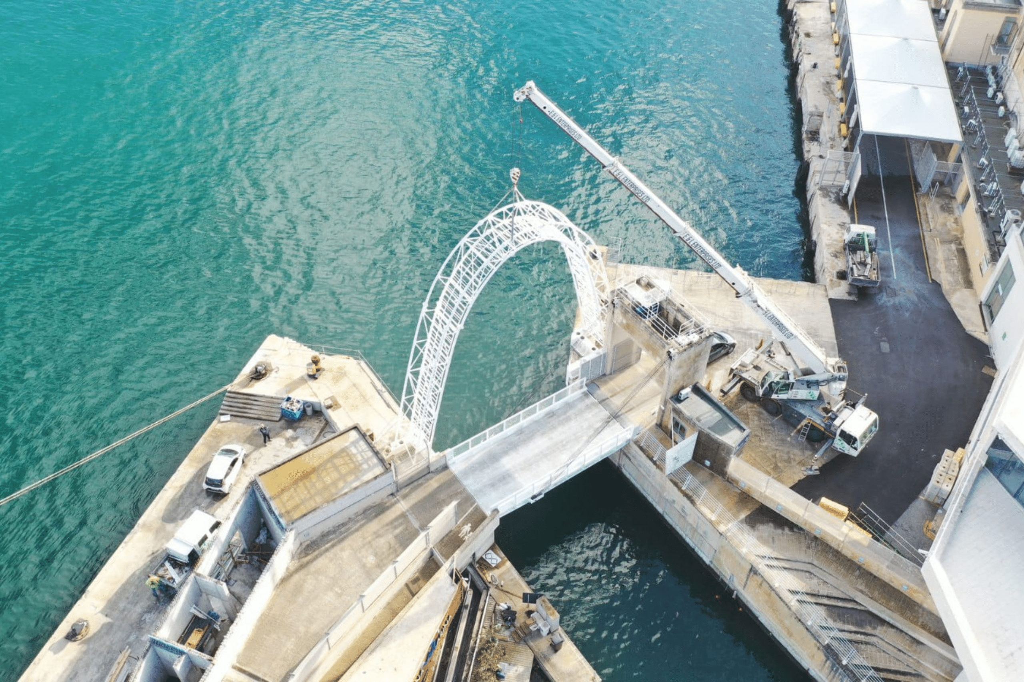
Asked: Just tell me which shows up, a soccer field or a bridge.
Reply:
bridge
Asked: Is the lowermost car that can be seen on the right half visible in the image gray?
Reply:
Yes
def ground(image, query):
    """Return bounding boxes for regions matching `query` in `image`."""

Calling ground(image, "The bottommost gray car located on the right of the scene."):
[705,334,741,374]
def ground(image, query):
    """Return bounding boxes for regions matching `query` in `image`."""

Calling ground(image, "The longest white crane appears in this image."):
[494,83,884,478]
